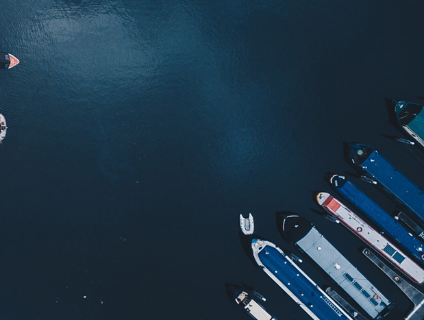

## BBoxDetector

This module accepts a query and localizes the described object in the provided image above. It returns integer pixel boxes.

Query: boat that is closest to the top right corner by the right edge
[390,102,424,151]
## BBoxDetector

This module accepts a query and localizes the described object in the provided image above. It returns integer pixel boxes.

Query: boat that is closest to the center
[240,212,254,235]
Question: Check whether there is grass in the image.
No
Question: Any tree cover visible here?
No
